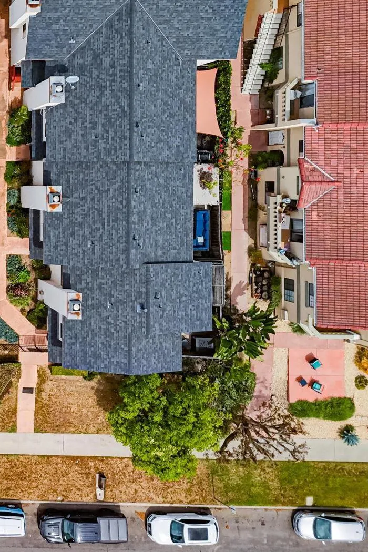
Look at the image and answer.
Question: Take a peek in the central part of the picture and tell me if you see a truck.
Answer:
No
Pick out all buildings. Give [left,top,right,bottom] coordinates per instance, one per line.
[9,0,248,374]
[232,0,368,339]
